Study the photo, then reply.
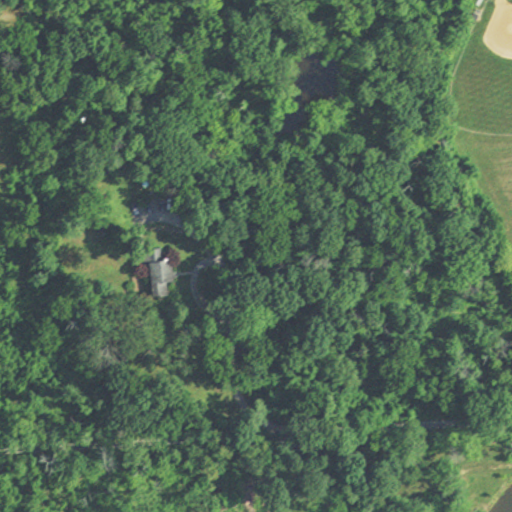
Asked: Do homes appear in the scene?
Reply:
Yes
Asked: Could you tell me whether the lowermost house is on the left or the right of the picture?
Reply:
left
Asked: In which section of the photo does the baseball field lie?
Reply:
top right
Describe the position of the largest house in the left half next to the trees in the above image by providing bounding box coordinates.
[150,258,178,298]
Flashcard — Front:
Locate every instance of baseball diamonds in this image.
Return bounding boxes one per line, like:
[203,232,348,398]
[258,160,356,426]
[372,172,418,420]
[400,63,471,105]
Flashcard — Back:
[450,0,512,136]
